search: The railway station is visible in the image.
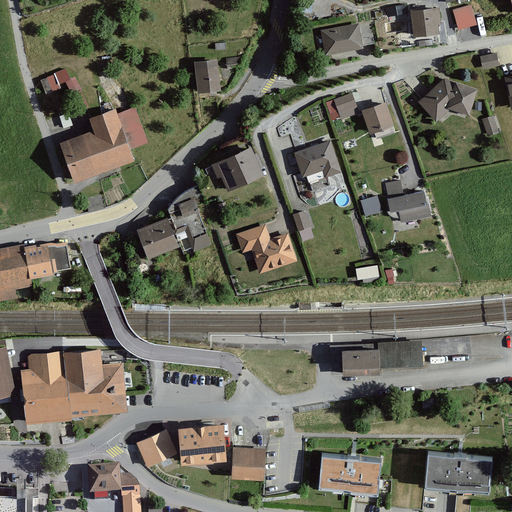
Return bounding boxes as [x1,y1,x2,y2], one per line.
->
[160,293,512,344]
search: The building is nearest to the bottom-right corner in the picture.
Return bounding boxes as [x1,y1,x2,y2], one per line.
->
[424,449,494,496]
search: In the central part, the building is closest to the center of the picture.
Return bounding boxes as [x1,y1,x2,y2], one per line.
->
[236,224,298,273]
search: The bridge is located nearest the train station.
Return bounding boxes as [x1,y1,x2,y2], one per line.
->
[80,243,244,378]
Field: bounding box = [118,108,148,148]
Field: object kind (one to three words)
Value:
barn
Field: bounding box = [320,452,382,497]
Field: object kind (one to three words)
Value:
building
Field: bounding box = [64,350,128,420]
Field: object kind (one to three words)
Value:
house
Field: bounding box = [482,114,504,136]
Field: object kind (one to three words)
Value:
shed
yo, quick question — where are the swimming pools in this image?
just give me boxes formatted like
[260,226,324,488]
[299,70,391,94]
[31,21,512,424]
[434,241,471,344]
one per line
[334,192,350,207]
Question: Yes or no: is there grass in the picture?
Yes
